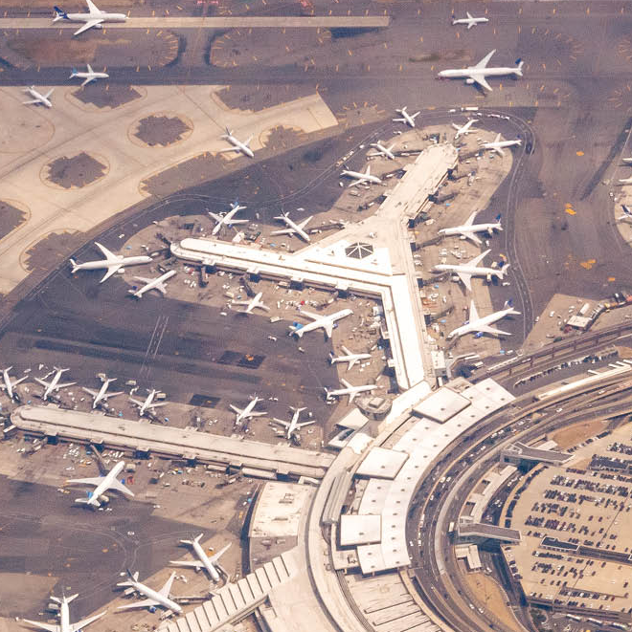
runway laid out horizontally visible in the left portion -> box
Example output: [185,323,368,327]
[0,15,390,29]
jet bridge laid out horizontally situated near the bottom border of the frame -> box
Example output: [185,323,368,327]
[169,593,212,605]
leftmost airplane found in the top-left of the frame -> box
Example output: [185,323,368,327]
[25,81,52,106]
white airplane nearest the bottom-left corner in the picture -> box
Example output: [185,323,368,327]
[20,590,108,632]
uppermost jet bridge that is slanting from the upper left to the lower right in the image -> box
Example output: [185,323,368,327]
[153,230,172,245]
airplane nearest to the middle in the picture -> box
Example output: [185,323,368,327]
[291,310,348,338]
